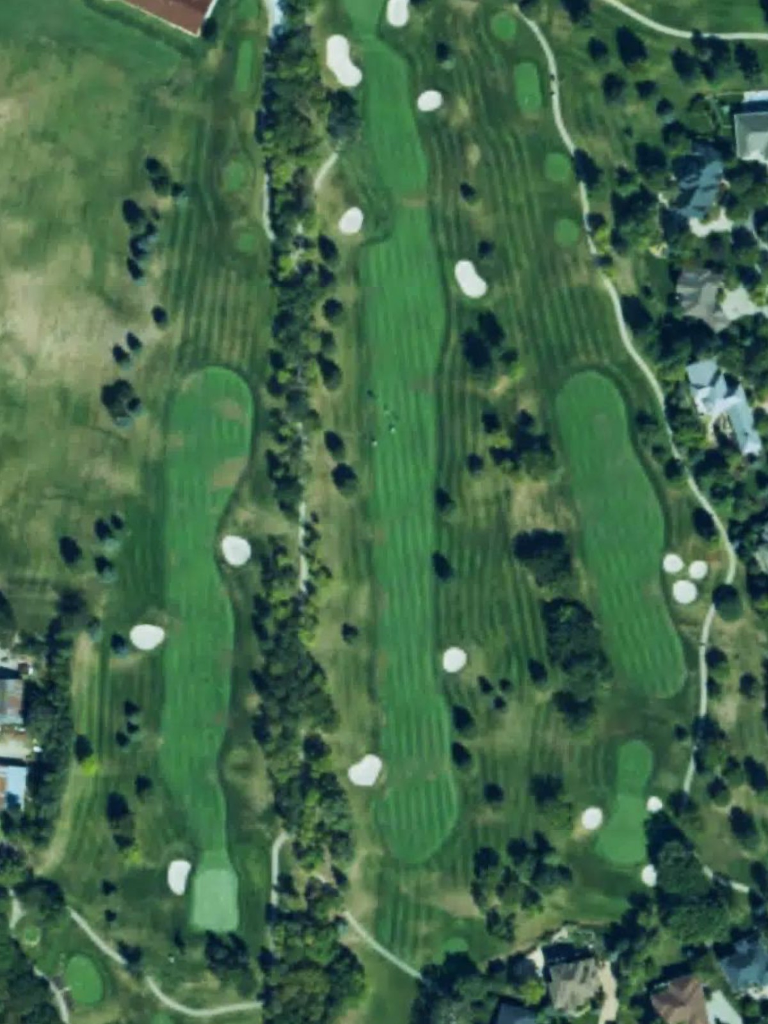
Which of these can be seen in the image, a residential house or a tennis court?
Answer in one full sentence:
The one in the frame is a residential house.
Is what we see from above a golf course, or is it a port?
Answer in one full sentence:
What you see here is a golf course.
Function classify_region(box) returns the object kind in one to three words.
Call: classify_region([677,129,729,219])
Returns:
house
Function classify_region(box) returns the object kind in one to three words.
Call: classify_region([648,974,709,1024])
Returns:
house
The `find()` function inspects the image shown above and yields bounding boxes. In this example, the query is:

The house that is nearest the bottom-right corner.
[722,943,768,999]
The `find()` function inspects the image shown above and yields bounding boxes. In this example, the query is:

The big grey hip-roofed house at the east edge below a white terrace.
[734,111,768,159]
